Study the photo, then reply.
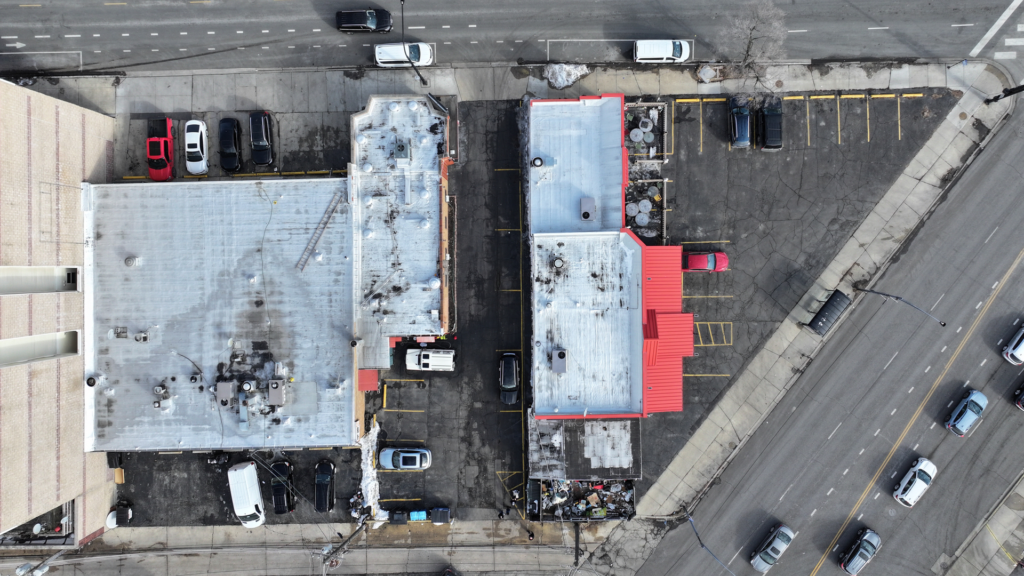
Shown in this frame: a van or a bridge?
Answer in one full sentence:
It is a van that can be seen here.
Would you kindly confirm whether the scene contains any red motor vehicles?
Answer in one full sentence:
Yes, there's a red motor vehicle here.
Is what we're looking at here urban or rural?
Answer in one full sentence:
From above, the setting appears urban.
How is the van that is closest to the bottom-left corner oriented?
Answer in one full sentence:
In this picture, the van that is closest to the bottom-left corner lies vertically.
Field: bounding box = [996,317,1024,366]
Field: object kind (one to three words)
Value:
car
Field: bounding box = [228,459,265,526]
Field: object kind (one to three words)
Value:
van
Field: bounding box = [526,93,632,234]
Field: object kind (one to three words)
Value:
building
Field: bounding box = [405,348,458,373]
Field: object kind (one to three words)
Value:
car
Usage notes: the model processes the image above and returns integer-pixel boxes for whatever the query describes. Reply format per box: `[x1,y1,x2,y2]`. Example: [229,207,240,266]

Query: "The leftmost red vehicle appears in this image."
[145,117,177,182]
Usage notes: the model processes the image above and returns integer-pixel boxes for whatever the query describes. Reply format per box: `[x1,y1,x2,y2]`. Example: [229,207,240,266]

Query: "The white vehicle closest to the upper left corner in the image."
[182,120,210,175]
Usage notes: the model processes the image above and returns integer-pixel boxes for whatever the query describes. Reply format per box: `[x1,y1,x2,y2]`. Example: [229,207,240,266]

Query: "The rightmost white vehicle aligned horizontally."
[634,38,689,65]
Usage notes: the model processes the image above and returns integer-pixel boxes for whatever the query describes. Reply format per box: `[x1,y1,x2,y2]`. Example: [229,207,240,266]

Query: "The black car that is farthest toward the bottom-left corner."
[268,460,296,513]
